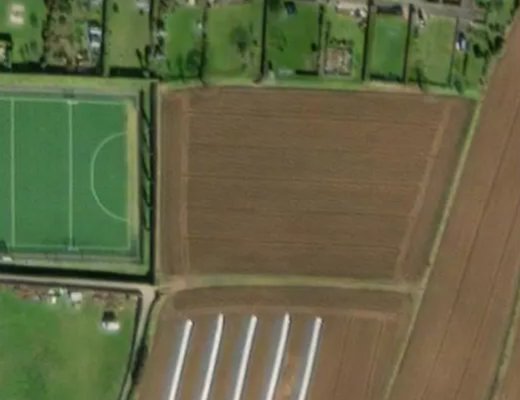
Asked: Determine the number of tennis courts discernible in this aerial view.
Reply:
0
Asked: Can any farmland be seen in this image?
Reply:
Yes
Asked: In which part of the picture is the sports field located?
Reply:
left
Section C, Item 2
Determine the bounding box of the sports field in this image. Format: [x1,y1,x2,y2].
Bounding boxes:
[0,88,141,262]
